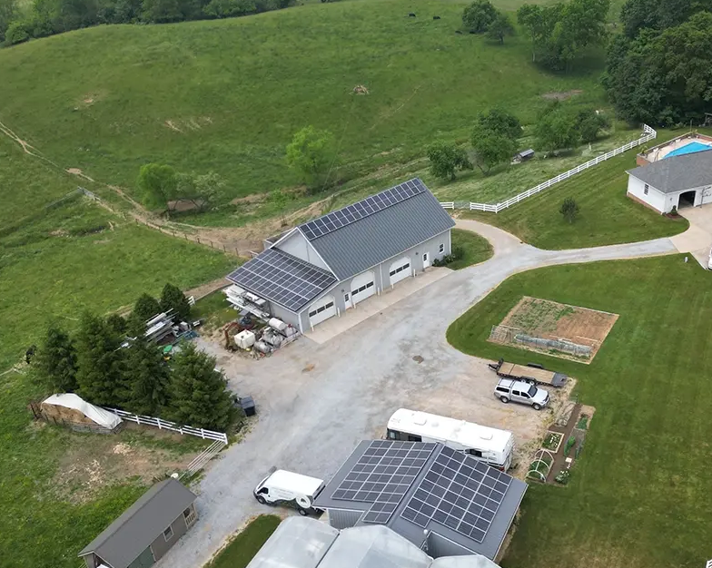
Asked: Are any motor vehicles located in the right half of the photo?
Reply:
Yes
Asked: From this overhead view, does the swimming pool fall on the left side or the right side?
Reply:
right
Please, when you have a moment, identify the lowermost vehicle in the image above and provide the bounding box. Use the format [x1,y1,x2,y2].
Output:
[252,467,328,514]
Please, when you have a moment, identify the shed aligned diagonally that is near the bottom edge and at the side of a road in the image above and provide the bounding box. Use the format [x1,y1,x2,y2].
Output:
[74,475,200,568]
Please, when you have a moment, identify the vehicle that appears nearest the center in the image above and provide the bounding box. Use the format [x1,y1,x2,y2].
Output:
[218,317,256,339]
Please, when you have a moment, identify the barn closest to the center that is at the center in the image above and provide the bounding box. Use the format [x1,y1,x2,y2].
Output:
[223,174,460,332]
